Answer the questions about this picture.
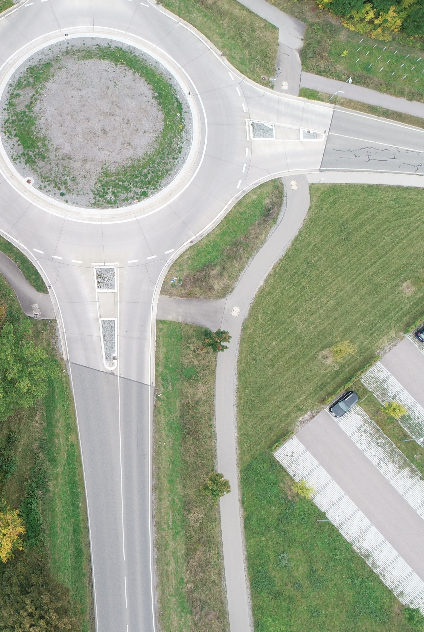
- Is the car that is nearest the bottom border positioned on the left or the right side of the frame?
right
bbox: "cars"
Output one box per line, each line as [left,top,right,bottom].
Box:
[329,391,360,417]
[414,325,424,342]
